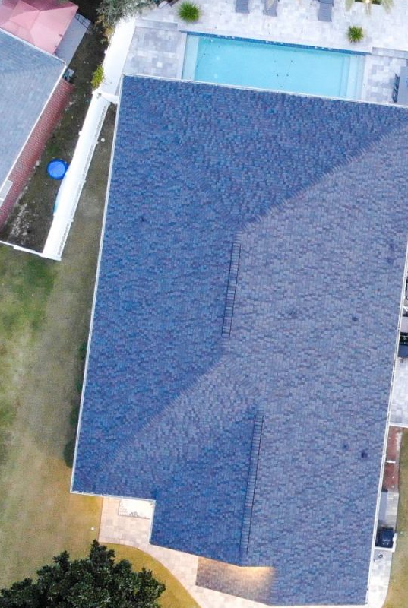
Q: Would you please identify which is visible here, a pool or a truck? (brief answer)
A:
pool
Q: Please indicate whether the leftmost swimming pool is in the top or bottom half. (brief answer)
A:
top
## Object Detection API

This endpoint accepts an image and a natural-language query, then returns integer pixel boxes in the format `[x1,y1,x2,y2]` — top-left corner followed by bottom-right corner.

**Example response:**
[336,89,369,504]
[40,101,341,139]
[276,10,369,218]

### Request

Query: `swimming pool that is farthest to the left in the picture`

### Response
[45,158,68,180]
